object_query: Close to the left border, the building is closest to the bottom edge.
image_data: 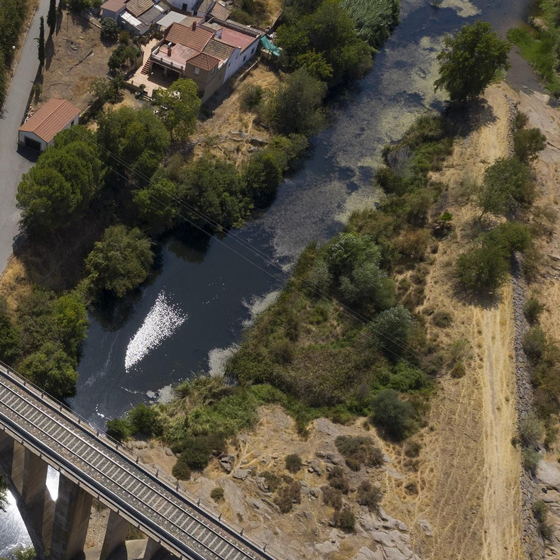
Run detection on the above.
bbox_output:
[19,98,80,161]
